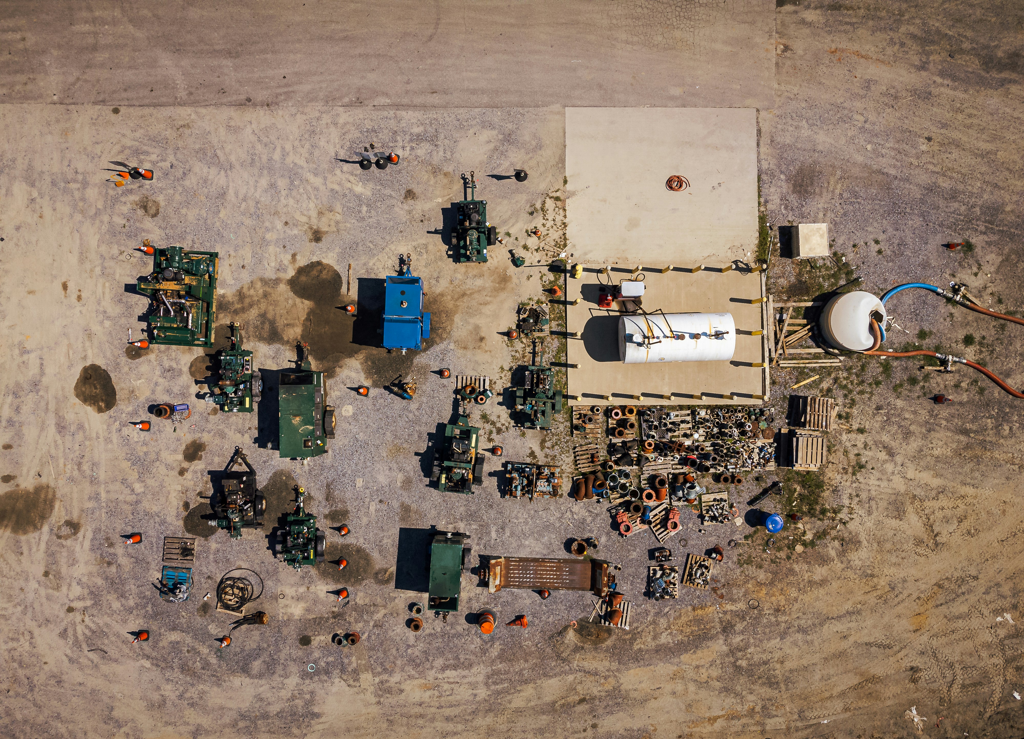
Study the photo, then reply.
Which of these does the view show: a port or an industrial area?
industrial area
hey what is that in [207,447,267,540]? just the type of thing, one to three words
trailer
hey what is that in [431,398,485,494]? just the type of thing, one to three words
trailer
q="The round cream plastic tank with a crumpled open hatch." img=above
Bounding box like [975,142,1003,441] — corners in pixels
[820,293,909,349]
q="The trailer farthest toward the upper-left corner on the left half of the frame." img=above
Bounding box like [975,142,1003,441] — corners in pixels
[204,322,263,412]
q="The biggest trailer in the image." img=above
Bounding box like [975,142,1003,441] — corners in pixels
[267,342,335,466]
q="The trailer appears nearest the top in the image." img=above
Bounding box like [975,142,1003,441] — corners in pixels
[453,171,496,263]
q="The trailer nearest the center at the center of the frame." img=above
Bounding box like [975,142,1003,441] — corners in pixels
[512,338,562,431]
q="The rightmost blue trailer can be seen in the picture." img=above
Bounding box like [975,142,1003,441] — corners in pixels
[380,253,430,355]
